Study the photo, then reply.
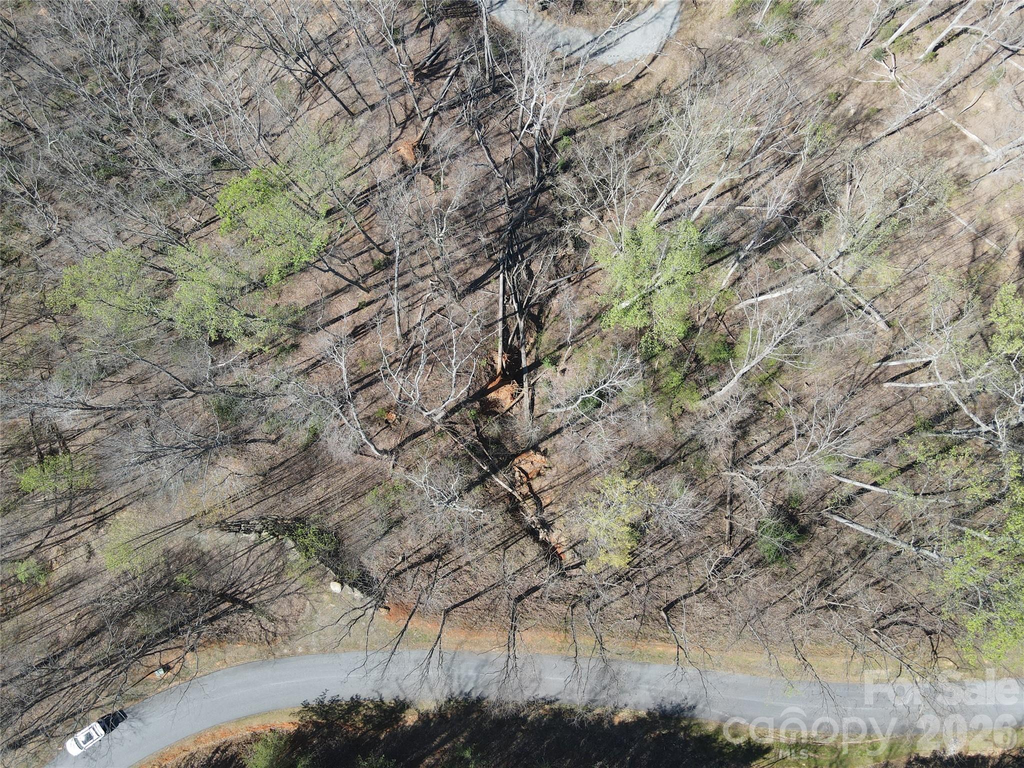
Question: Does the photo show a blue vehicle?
No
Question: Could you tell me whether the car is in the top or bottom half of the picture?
bottom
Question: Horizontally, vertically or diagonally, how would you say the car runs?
diagonally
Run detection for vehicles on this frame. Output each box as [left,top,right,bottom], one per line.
[68,711,118,752]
